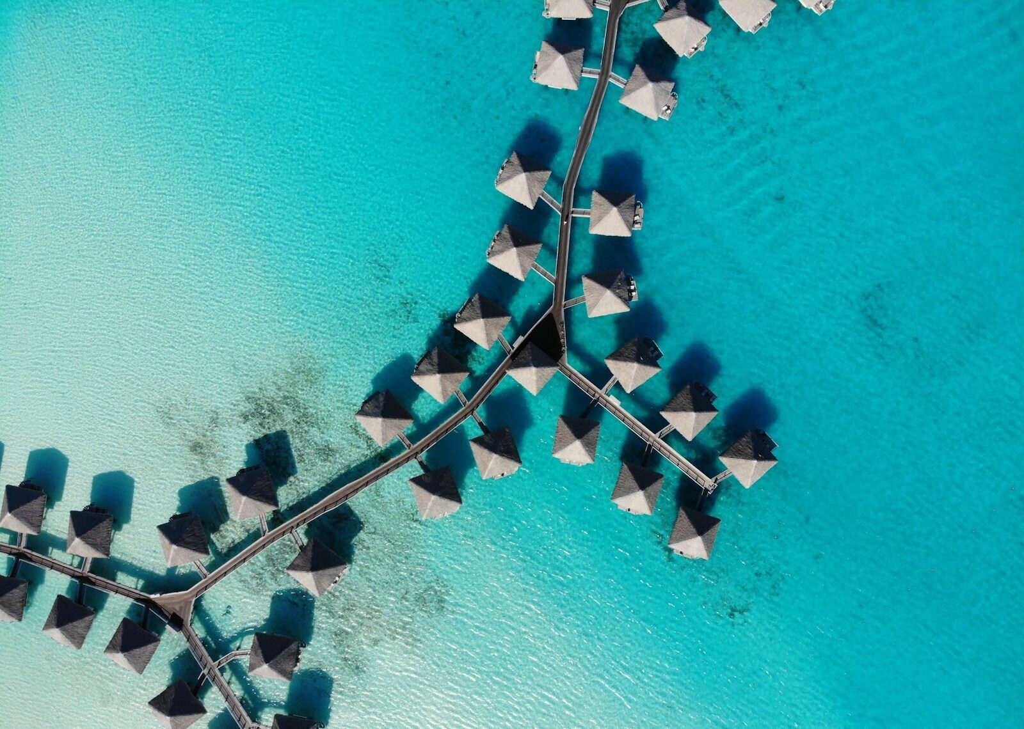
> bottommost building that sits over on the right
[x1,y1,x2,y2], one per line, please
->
[666,503,723,562]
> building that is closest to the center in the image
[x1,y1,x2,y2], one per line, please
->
[505,339,561,397]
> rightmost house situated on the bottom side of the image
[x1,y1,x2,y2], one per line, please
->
[718,428,779,490]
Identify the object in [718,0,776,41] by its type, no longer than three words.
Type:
house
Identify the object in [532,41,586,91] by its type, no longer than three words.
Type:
house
